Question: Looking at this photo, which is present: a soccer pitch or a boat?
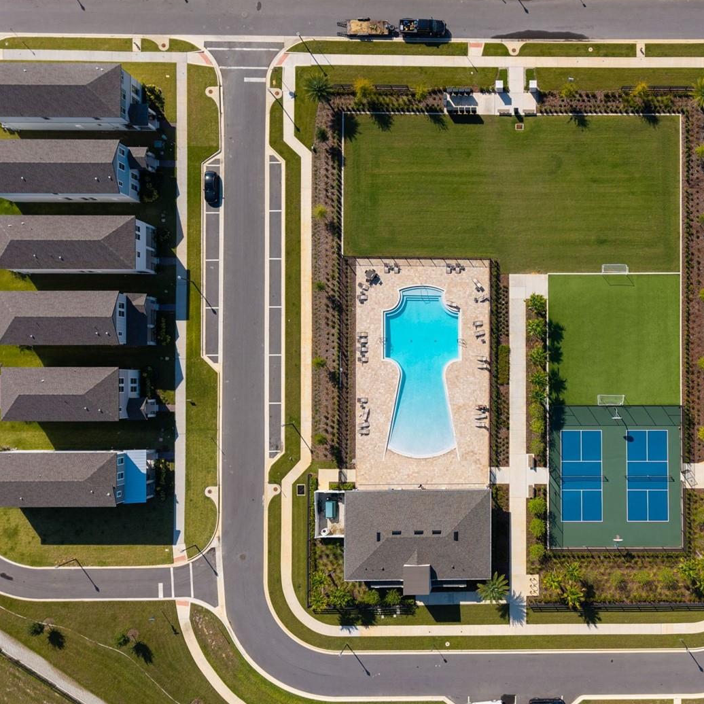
soccer pitch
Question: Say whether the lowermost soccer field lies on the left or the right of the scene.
right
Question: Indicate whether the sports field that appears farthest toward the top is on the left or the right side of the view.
right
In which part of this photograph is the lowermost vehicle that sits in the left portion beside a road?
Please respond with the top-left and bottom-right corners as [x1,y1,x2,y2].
[203,171,220,204]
